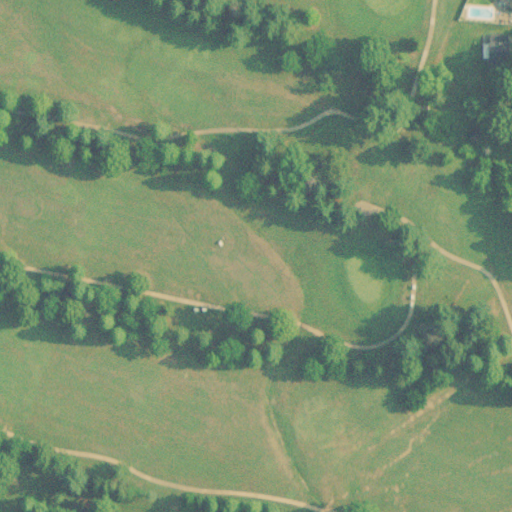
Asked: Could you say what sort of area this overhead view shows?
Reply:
golf course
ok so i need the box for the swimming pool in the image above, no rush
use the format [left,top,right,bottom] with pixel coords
[468,5,497,20]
